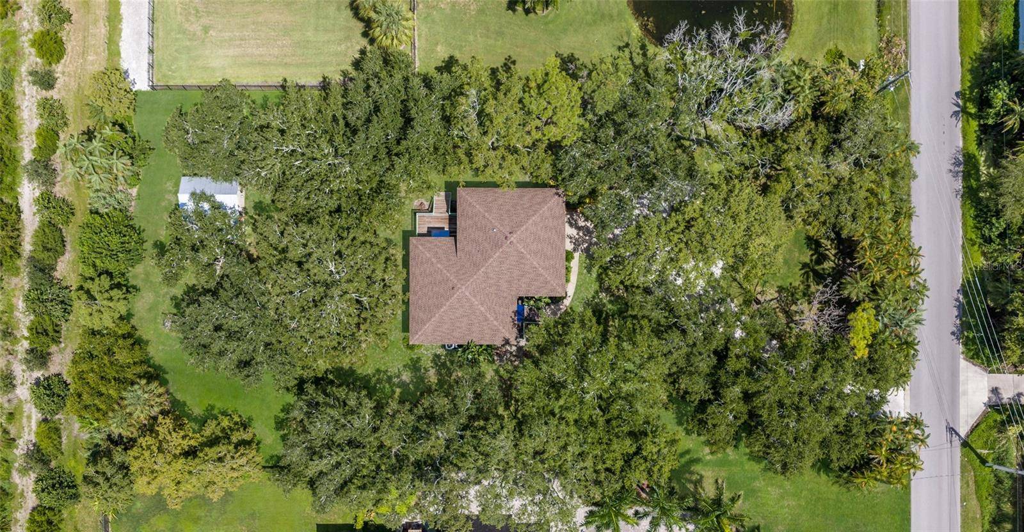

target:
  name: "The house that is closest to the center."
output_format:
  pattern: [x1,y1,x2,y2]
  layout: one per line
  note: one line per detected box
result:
[409,187,566,346]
